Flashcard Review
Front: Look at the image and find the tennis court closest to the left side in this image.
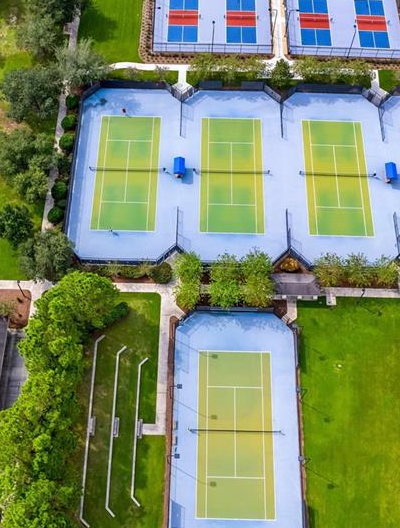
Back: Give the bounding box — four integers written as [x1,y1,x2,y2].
[68,89,181,255]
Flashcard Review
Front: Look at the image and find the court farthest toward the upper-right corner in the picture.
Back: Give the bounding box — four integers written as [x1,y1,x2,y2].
[340,0,400,58]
